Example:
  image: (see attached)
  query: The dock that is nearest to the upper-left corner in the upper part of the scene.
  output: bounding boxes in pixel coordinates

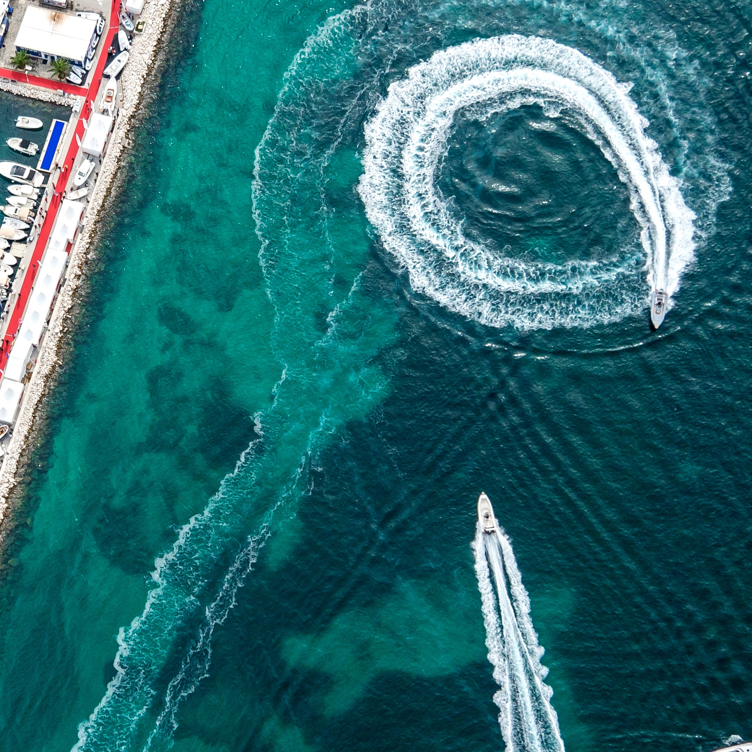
[36,118,67,173]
